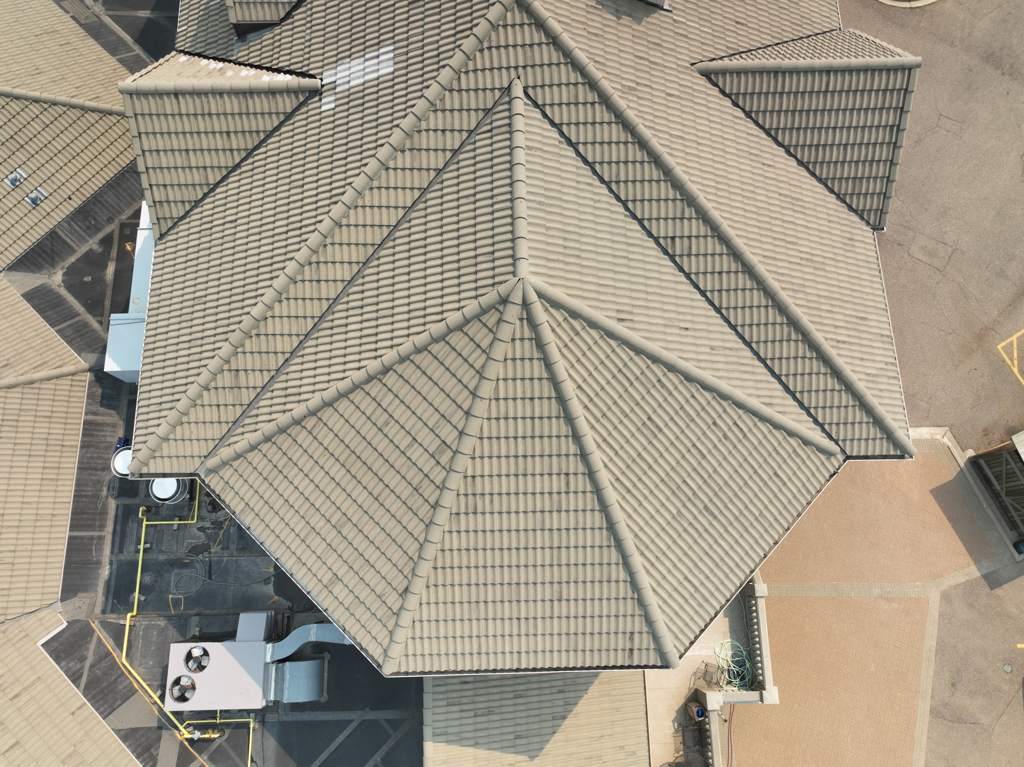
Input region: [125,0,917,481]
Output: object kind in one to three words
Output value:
building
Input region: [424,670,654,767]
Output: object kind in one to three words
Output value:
building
